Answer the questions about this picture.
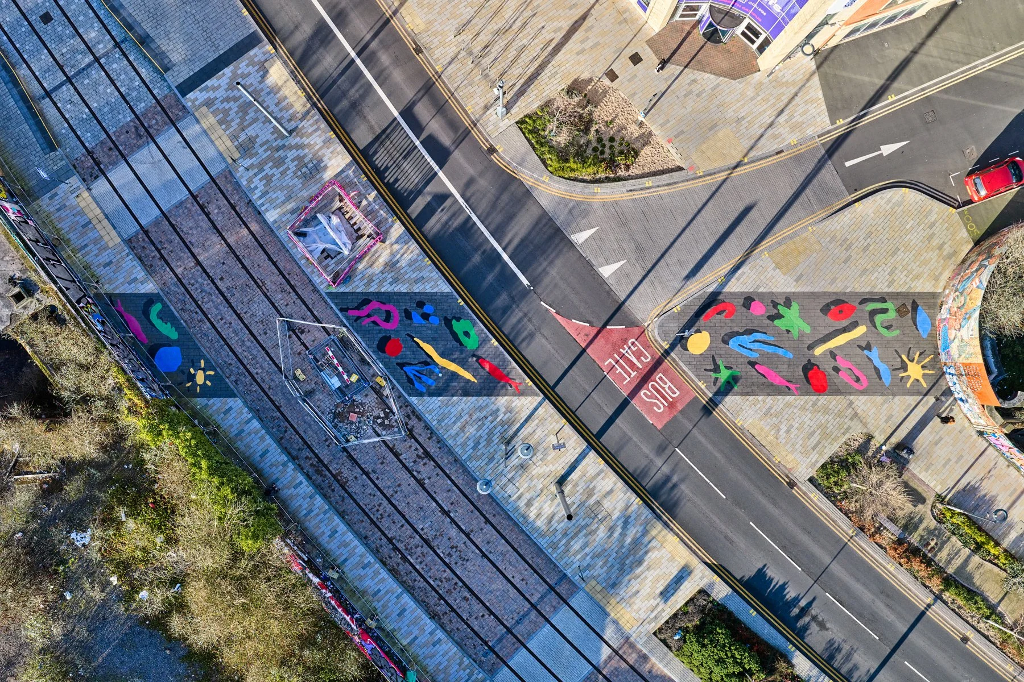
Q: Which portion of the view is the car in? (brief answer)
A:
top right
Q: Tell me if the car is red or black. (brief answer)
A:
red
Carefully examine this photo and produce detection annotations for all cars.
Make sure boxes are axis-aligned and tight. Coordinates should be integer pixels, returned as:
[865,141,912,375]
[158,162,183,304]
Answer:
[969,152,1024,201]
